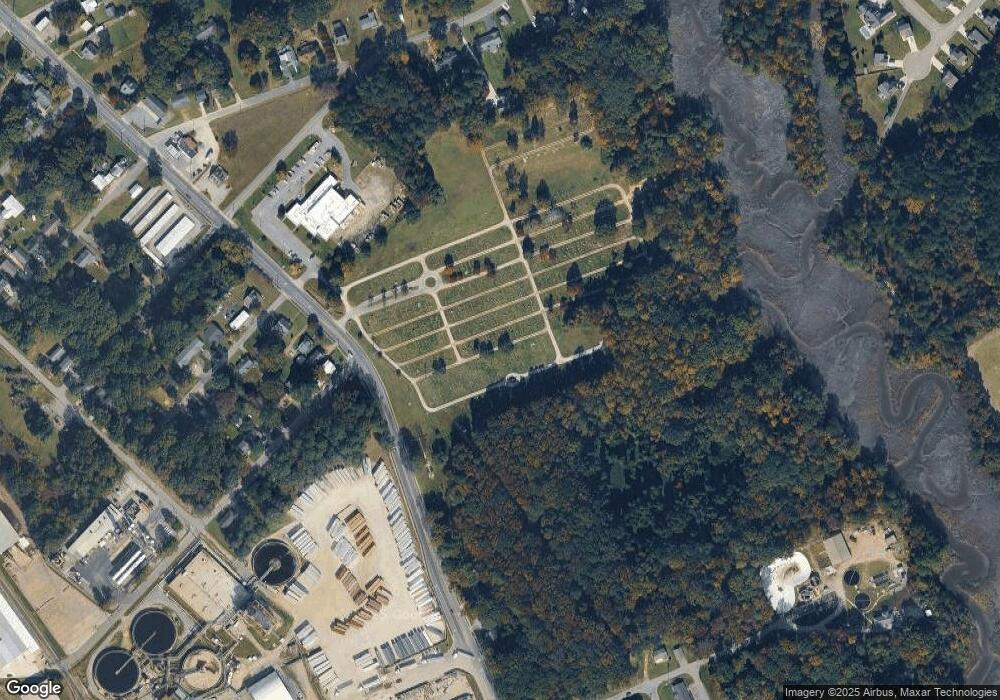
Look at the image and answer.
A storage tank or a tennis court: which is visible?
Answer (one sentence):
Visible in the photo is a storage tank.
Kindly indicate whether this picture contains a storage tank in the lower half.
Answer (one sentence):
Yes, the scene does show a storage tank in the lower half.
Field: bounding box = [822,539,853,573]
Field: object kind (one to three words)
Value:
building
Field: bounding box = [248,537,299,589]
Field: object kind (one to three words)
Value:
storage tank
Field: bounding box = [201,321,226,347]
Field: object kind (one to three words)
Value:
house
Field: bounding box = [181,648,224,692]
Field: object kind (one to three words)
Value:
storage tank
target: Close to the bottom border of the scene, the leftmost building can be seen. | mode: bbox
[0,595,39,678]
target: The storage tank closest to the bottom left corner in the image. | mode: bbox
[92,647,142,696]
